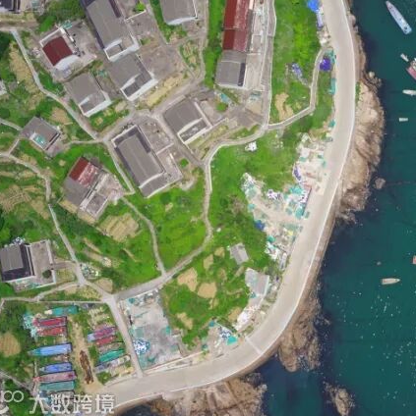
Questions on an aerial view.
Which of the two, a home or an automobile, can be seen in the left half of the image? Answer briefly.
home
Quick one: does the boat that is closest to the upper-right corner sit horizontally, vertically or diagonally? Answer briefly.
diagonally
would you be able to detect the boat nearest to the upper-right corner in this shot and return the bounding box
[387,1,411,34]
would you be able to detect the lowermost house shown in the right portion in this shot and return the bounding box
[244,270,271,293]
